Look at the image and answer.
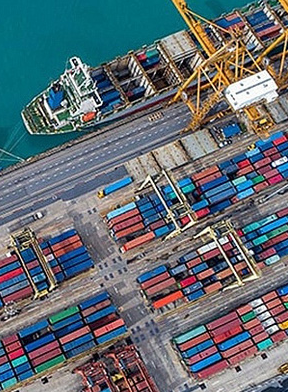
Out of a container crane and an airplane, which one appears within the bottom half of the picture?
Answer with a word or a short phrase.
container crane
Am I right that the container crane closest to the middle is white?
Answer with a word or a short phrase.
Yes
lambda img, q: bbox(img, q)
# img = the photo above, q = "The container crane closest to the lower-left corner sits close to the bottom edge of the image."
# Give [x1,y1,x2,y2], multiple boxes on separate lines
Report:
[65,357,117,392]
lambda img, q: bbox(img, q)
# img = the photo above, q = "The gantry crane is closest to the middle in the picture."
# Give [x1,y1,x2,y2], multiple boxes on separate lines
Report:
[133,167,196,242]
